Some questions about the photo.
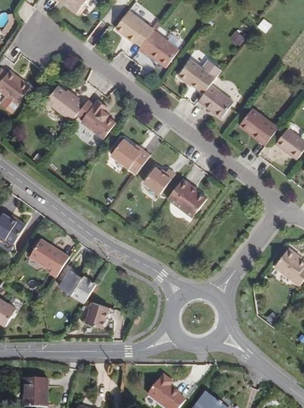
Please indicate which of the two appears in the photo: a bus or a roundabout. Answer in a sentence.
There is a roundabout in the scene.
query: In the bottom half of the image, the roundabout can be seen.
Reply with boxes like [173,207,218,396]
[148,268,246,360]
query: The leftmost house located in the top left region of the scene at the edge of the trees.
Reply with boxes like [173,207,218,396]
[0,67,32,111]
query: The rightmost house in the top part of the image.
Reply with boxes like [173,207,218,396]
[276,128,304,160]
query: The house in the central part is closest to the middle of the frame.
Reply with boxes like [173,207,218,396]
[146,167,176,200]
